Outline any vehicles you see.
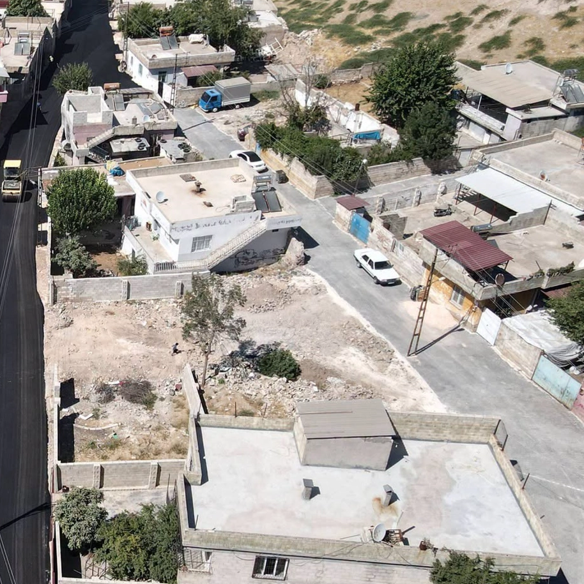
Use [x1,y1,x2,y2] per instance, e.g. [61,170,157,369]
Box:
[199,79,258,110]
[350,249,405,283]
[0,163,24,206]
[435,205,456,217]
[228,151,272,172]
